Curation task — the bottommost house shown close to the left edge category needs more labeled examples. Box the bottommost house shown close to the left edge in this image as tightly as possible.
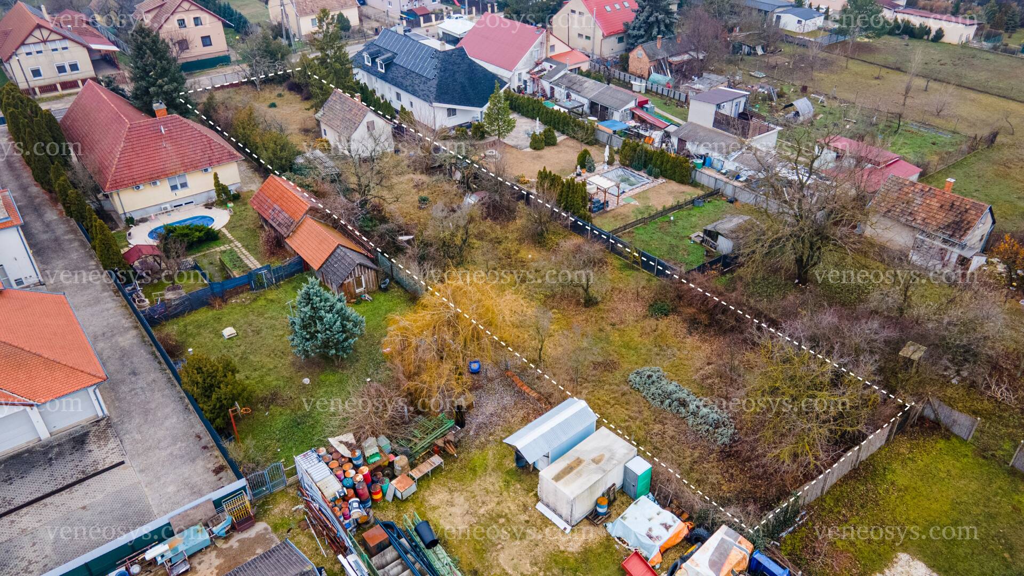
[0,293,119,465]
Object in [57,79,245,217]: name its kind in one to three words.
house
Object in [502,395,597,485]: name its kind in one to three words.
shed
